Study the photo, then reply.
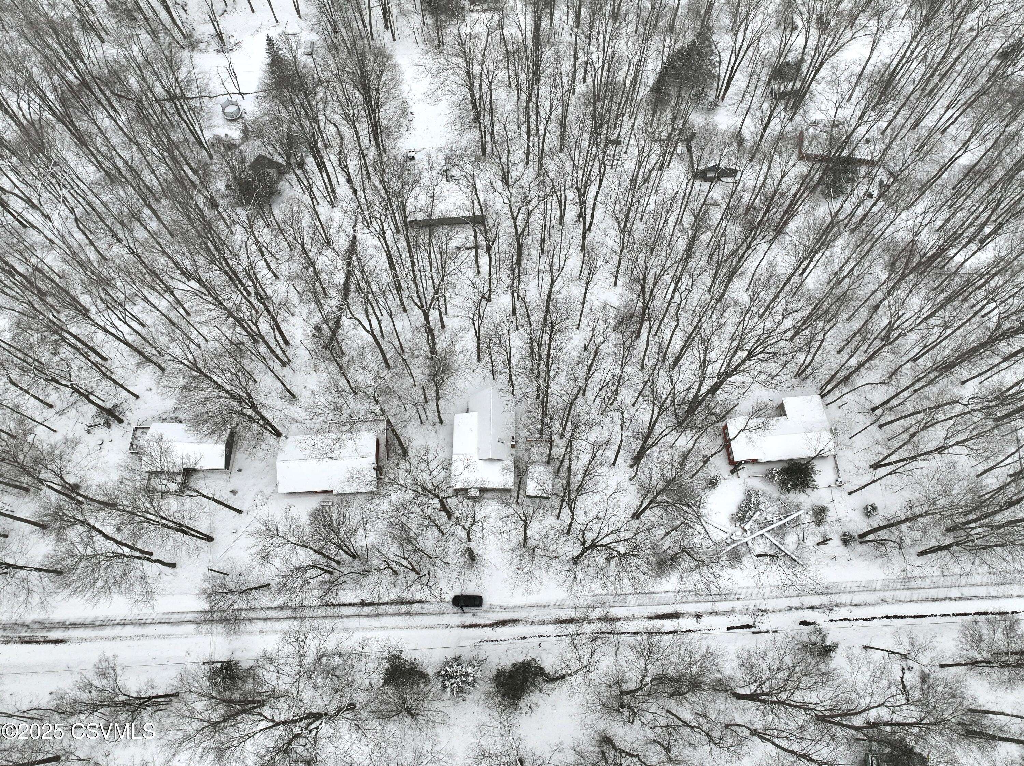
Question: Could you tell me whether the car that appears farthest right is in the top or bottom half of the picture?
bottom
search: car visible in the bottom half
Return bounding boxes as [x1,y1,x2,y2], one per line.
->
[452,593,483,614]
